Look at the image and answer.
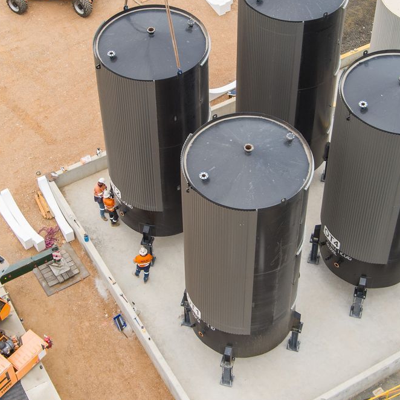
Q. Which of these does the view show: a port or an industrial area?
industrial area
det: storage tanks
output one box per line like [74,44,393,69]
[171,108,316,371]
[232,0,348,171]
[367,0,400,51]
[92,2,213,247]
[305,46,400,299]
